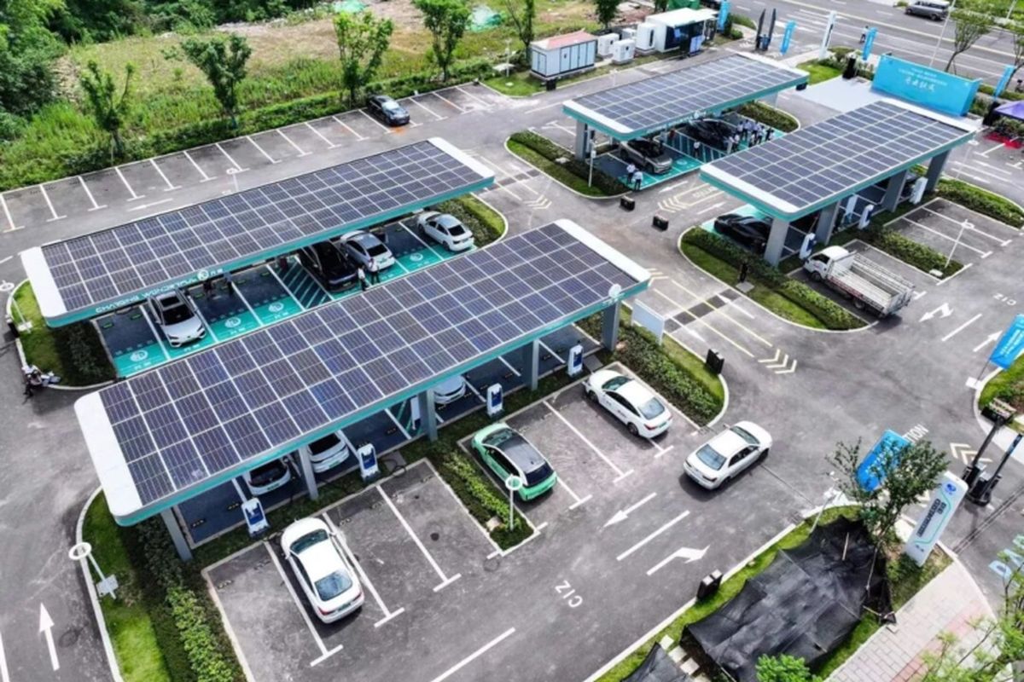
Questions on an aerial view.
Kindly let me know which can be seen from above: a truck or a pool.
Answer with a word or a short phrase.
truck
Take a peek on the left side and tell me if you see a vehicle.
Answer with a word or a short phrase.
Yes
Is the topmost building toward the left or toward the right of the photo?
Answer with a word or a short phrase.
right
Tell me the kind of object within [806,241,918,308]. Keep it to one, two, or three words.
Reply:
truck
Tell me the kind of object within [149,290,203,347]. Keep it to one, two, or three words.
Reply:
car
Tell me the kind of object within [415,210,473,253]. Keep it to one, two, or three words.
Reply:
car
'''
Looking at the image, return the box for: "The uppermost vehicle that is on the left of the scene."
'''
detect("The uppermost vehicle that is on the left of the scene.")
[366,95,410,125]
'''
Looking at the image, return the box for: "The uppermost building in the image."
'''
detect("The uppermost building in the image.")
[651,3,724,50]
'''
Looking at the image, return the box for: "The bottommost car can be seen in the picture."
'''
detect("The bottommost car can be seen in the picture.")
[279,515,364,626]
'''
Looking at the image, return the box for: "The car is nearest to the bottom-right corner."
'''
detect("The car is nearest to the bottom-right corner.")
[685,419,771,493]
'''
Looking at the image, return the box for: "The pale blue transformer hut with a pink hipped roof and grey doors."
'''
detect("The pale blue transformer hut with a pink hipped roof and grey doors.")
[527,33,601,77]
